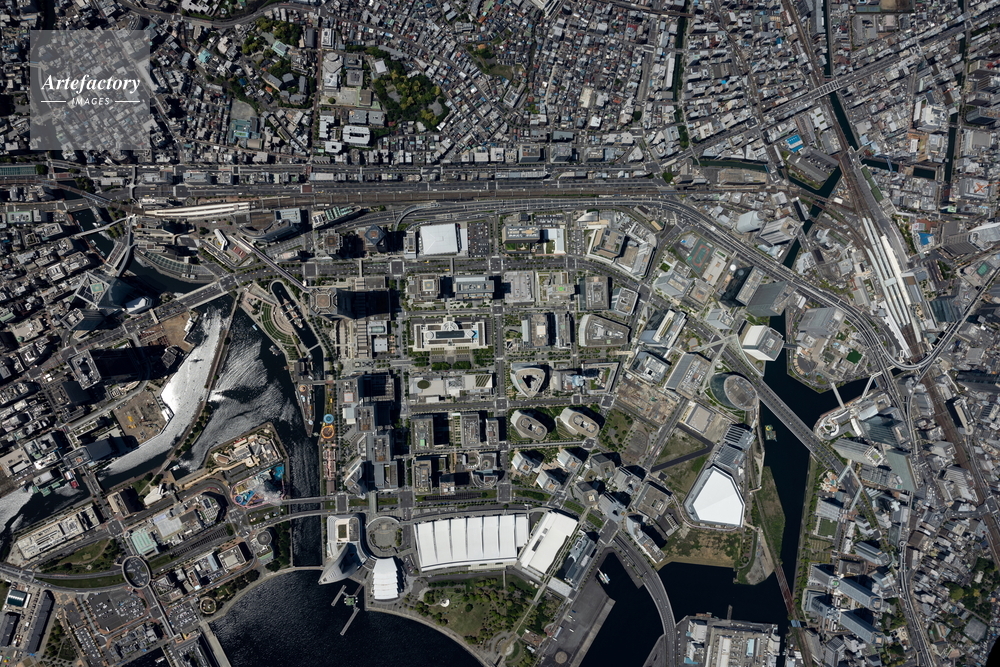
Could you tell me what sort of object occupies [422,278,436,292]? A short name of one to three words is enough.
helipad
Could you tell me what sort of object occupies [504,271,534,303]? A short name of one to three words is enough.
building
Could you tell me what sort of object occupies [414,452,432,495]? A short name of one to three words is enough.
building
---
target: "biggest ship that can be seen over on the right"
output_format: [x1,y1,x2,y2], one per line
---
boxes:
[765,425,777,441]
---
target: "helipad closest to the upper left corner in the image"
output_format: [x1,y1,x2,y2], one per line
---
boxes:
[90,280,104,295]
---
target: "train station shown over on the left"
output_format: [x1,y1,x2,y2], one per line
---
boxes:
[146,201,250,218]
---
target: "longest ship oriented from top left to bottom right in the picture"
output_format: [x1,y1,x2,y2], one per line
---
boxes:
[281,297,304,330]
